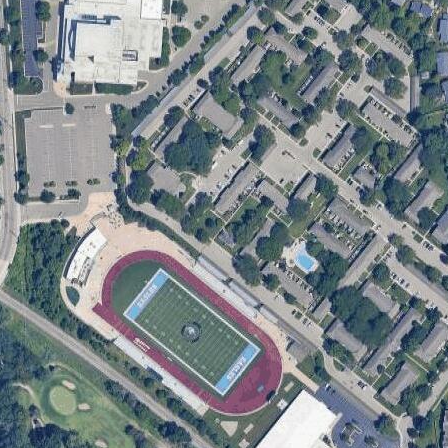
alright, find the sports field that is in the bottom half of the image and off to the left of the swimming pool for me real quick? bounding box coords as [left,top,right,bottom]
[111,259,268,402]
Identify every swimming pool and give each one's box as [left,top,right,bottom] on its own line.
[282,239,321,271]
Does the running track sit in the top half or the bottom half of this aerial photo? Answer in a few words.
bottom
